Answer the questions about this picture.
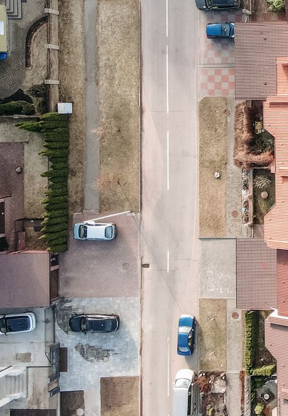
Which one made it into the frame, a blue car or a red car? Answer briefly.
blue car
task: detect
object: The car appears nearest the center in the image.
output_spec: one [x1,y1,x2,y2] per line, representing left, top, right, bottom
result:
[75,221,119,242]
